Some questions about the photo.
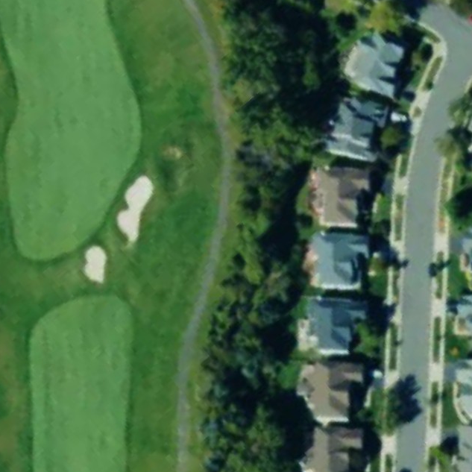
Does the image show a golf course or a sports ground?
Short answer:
golf course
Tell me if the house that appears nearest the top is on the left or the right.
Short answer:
right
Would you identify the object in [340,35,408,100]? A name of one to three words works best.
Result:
house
